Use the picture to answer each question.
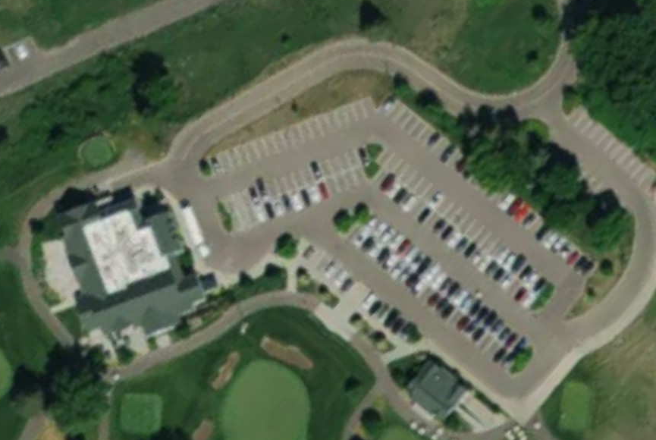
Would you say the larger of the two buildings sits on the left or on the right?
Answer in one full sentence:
You can find the larger of the two buildings on the left side of the picture.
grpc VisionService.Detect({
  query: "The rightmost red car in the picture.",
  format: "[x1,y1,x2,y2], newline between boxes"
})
[566,250,580,266]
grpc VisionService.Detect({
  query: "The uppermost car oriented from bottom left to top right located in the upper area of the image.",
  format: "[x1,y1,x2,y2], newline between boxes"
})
[383,98,397,115]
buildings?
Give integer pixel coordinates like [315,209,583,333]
[408,357,470,420]
[60,198,217,337]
